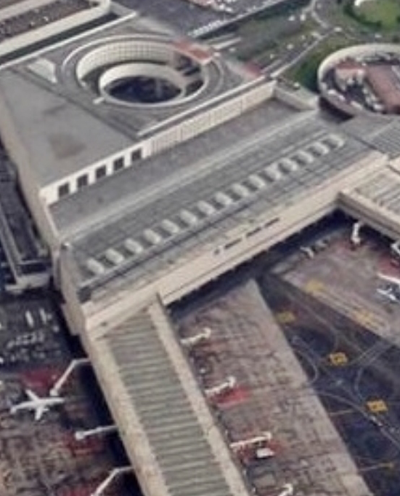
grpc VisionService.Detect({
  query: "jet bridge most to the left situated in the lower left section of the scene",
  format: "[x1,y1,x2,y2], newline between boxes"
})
[51,356,91,396]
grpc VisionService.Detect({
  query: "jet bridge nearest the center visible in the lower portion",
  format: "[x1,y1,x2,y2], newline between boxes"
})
[181,329,212,347]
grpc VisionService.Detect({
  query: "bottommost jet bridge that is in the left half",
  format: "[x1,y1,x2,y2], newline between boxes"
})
[91,464,134,496]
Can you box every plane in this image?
[377,275,400,301]
[8,395,65,422]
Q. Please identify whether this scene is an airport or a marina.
airport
